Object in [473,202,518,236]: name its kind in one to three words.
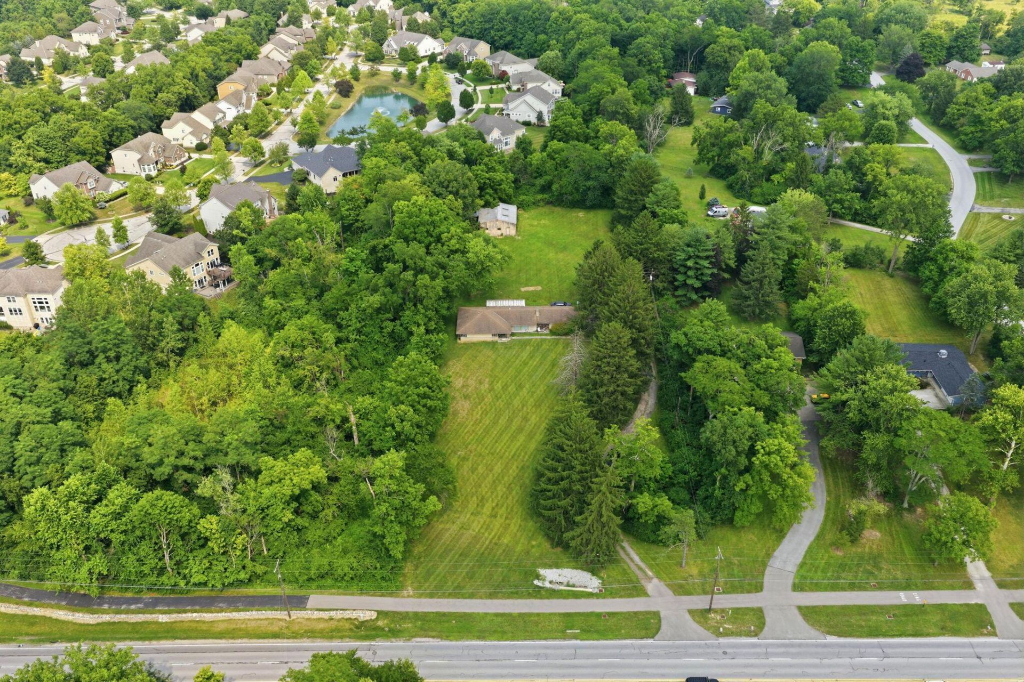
barn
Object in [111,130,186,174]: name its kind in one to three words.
house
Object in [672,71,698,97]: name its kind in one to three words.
house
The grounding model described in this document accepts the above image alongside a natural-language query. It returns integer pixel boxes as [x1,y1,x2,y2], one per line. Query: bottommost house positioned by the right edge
[899,337,992,408]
